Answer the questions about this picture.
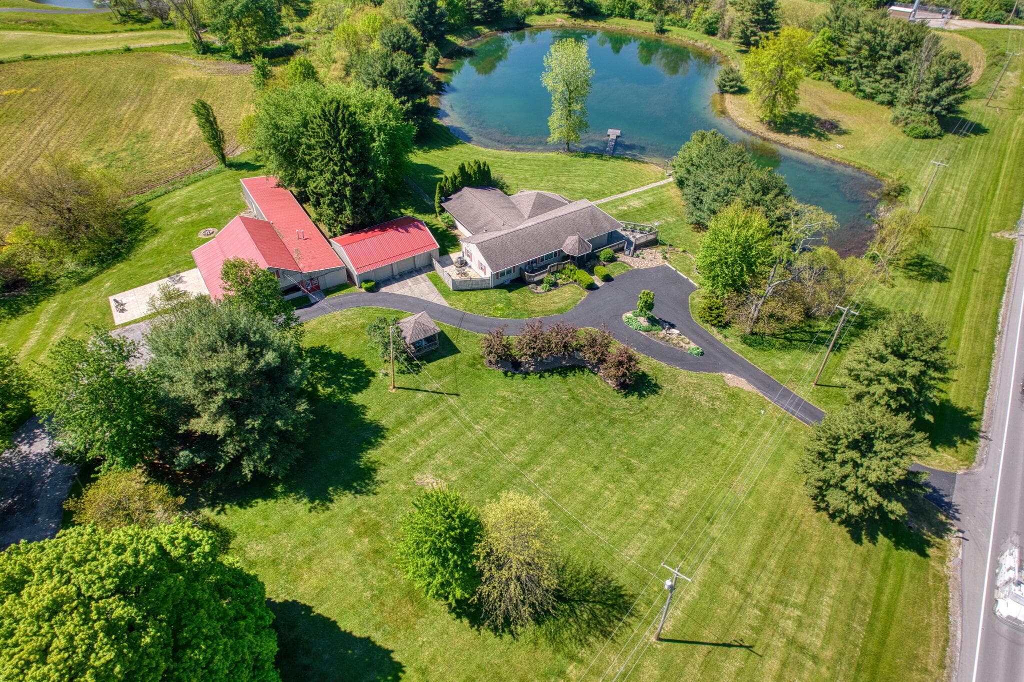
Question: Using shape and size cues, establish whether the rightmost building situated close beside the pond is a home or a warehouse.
home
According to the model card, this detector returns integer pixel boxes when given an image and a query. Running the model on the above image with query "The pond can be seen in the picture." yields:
[469,37,829,215]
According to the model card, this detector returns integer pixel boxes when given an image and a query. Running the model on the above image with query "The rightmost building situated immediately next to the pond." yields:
[442,185,625,285]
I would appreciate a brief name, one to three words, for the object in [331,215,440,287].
building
